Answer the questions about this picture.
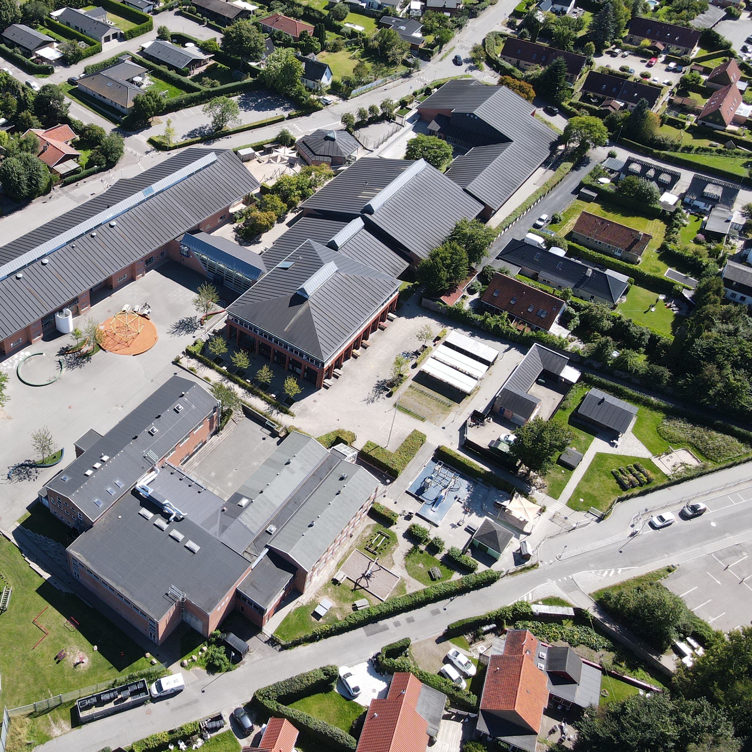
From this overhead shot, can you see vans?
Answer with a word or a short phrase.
Yes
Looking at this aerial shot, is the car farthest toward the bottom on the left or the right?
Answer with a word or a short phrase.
left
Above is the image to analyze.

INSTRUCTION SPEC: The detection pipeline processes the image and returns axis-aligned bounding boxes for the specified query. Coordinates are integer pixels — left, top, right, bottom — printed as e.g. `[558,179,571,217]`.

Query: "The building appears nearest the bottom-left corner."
[75,681,150,725]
